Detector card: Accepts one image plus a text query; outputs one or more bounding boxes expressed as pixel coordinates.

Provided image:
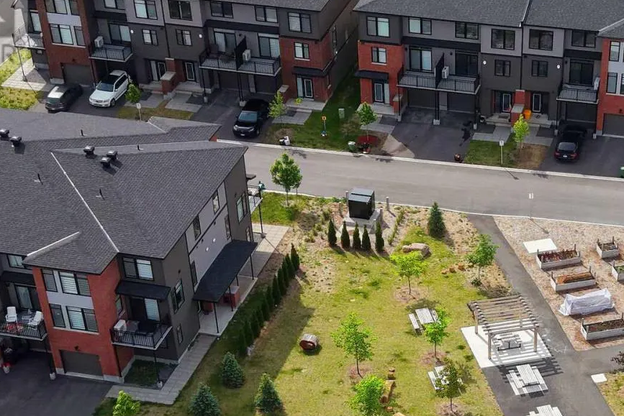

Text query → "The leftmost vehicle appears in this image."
[43,84,88,110]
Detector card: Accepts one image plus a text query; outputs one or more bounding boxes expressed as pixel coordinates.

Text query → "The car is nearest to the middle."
[230,97,270,137]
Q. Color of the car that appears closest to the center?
black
